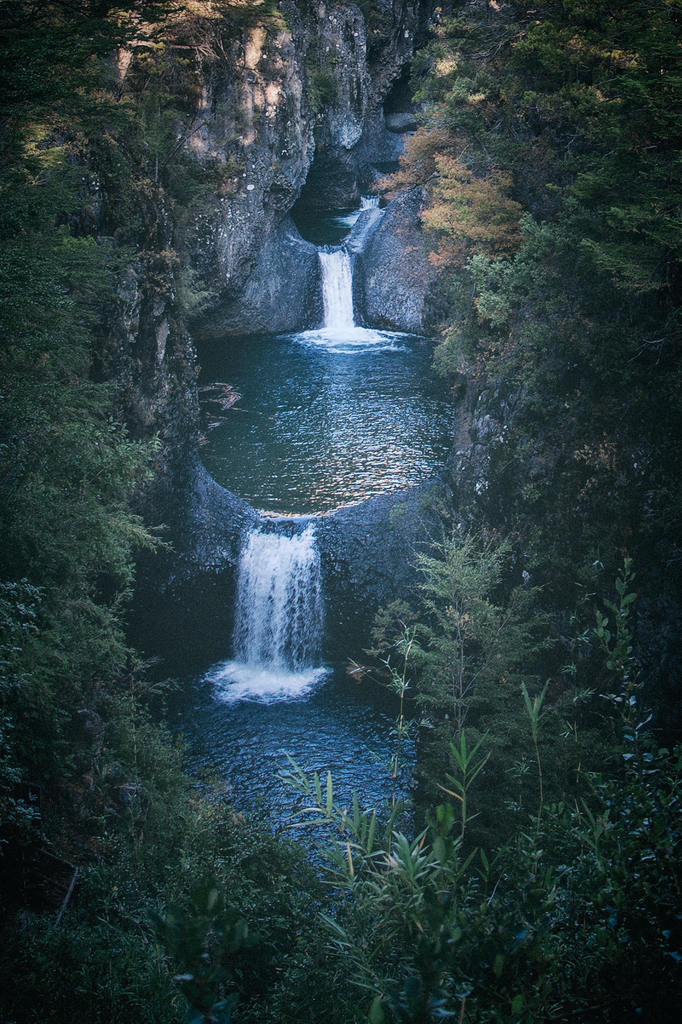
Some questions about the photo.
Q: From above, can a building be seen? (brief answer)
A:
No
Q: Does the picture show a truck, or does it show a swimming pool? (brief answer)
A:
swimming pool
